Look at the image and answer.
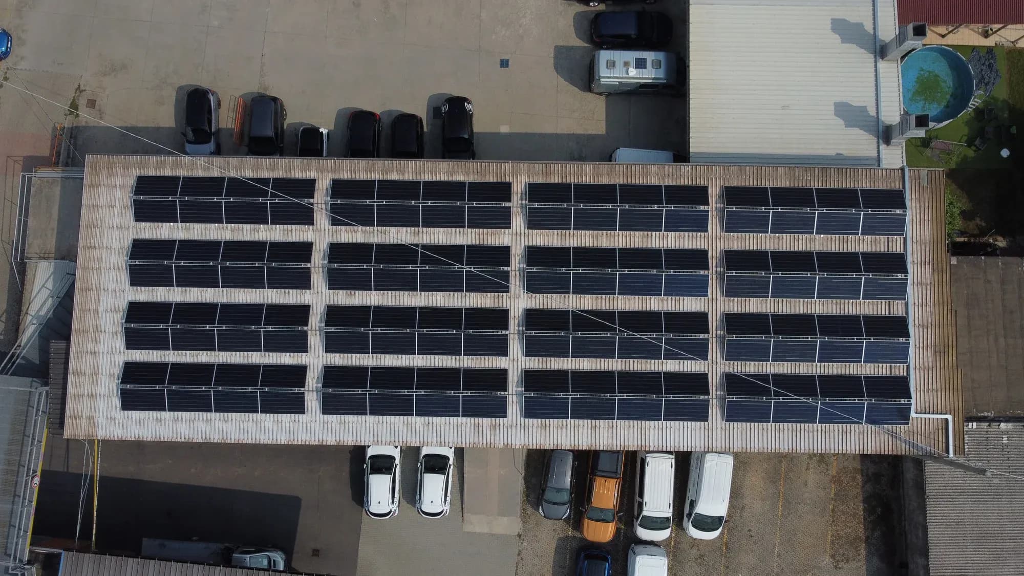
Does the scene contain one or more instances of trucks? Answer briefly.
Yes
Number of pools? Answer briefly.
1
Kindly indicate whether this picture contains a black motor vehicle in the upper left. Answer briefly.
Yes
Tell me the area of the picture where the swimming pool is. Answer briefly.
top right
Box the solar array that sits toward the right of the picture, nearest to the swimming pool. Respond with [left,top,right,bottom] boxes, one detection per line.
[724,185,907,239]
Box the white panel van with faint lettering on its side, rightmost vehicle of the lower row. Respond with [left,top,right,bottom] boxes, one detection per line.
[684,454,733,541]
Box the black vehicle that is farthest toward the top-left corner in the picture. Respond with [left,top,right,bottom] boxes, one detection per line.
[181,86,225,154]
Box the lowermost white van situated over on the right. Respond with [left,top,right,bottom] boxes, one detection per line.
[628,541,665,576]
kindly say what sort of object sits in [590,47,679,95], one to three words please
van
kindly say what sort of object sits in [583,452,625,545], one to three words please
truck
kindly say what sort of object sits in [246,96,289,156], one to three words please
car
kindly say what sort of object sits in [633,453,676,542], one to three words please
van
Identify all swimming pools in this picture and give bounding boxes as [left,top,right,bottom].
[902,48,977,128]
